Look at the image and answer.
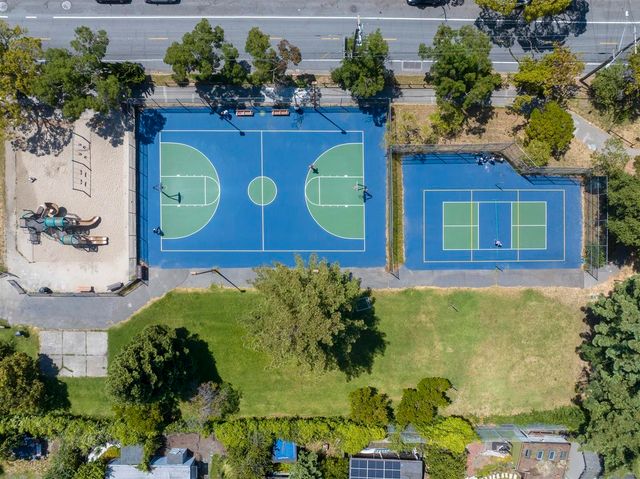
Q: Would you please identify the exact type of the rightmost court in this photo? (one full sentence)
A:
The rightmost court in the image is a tennis court.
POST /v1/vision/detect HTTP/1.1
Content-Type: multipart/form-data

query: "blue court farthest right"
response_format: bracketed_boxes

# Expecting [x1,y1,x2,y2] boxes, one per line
[402,151,582,271]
